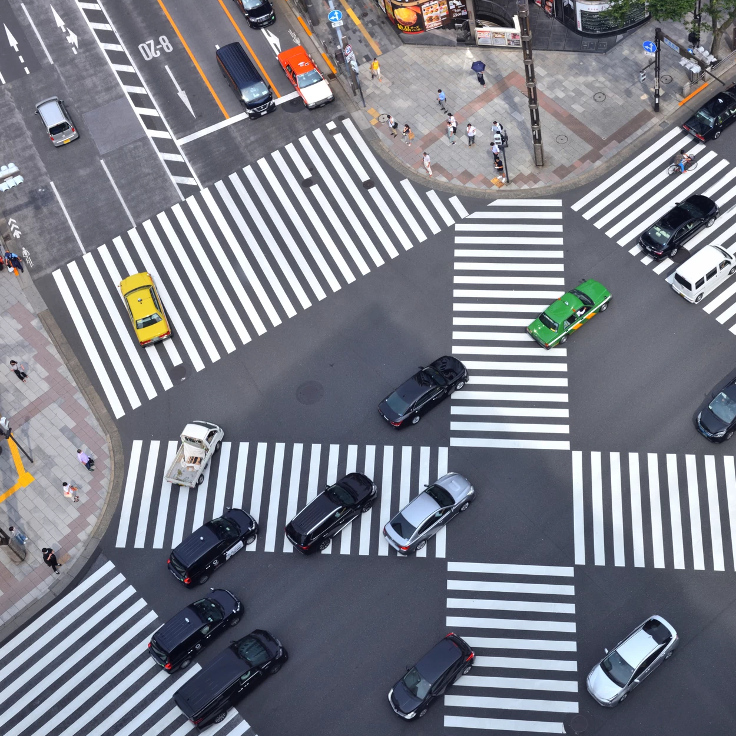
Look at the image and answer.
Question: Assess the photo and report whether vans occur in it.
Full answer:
Yes, you can see a van in this photo.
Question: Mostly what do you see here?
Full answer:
What you mostly see from above here is paved ground.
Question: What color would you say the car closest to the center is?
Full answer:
The car closest to the center is black.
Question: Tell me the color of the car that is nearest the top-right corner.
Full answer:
From above, the car that is nearest the top-right corner appears black.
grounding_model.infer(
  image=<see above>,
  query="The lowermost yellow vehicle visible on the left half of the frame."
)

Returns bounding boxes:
[122,270,171,348]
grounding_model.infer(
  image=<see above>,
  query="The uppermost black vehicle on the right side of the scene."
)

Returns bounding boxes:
[684,86,736,144]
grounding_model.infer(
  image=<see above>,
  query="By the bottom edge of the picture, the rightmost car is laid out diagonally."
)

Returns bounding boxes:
[589,615,680,708]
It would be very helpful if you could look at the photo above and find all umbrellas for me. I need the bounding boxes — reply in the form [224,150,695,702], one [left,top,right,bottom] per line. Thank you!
[471,59,489,71]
